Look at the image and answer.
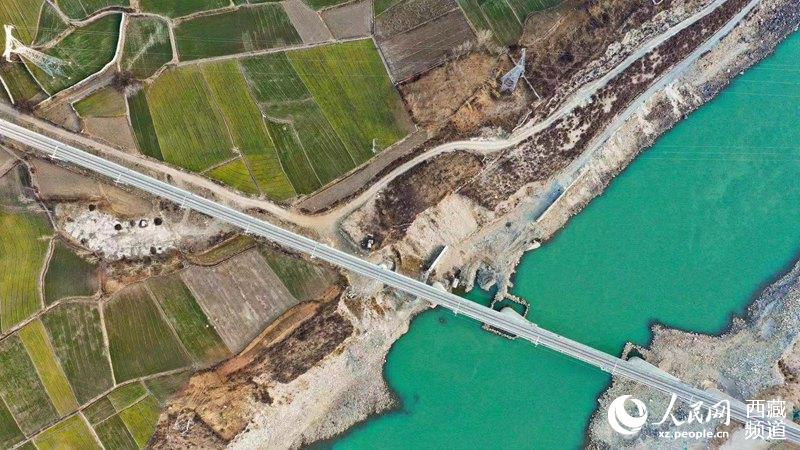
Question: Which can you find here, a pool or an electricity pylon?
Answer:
electricity pylon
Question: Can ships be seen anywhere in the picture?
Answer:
No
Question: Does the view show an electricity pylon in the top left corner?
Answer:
Yes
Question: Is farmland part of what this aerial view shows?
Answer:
Yes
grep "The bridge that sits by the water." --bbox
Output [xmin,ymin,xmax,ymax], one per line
[0,120,800,448]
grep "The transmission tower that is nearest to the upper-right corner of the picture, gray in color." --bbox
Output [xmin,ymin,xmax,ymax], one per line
[496,52,525,98]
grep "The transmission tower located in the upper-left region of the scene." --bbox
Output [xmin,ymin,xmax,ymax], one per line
[2,26,75,81]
